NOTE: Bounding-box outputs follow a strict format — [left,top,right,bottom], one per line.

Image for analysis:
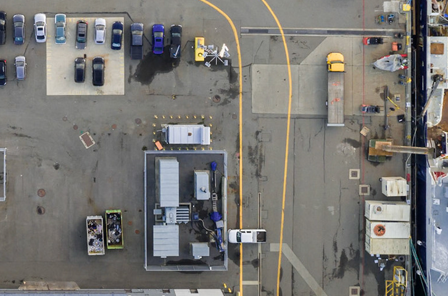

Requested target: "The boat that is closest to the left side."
[373,52,409,72]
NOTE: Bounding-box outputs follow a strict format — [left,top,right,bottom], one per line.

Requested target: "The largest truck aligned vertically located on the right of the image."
[325,51,347,126]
